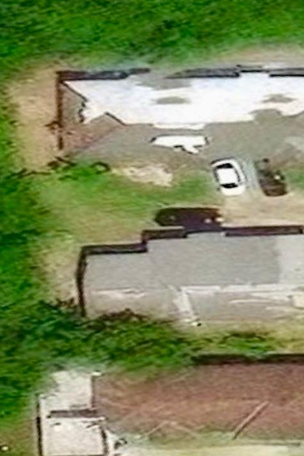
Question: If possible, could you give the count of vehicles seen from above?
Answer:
3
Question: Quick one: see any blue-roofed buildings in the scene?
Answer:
No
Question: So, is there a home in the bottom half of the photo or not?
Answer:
Yes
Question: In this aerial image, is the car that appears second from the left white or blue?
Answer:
white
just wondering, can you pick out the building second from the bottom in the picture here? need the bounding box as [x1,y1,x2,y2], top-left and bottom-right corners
[85,231,304,324]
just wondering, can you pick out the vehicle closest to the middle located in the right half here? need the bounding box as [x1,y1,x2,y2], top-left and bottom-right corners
[156,206,222,230]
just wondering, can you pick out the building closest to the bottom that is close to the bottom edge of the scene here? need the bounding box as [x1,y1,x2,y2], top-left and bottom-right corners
[94,364,304,444]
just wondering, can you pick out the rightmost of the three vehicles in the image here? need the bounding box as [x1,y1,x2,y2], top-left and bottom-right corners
[256,160,287,200]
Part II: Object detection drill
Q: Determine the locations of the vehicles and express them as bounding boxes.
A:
[156,206,222,230]
[256,160,287,200]
[212,157,246,199]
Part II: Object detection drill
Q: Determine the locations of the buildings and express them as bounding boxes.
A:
[94,364,304,444]
[62,74,304,160]
[85,231,304,324]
